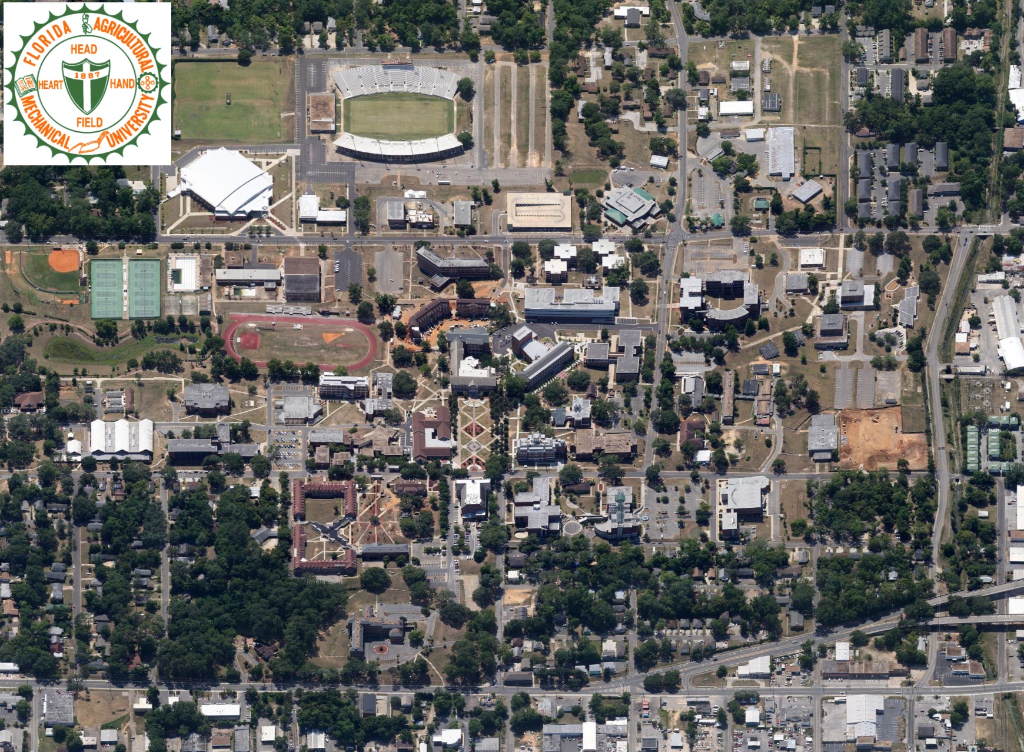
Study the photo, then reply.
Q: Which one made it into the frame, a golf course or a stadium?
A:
stadium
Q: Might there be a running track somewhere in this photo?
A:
Yes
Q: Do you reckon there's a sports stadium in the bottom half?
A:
No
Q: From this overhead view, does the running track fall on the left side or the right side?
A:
left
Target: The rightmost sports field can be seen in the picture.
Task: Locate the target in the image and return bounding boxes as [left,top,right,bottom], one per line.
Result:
[343,92,454,141]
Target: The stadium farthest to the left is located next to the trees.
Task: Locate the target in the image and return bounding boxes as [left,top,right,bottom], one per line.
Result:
[168,147,273,222]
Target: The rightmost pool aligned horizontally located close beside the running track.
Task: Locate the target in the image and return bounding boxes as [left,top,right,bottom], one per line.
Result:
[224,286,285,300]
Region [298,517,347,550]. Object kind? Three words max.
building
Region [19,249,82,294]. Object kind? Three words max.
baseball field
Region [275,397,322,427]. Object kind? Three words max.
building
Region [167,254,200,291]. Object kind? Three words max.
swimming pool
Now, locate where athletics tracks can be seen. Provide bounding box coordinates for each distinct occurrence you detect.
[223,314,376,371]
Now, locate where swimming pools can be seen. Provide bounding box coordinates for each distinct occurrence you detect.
[224,286,285,300]
[167,254,200,291]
